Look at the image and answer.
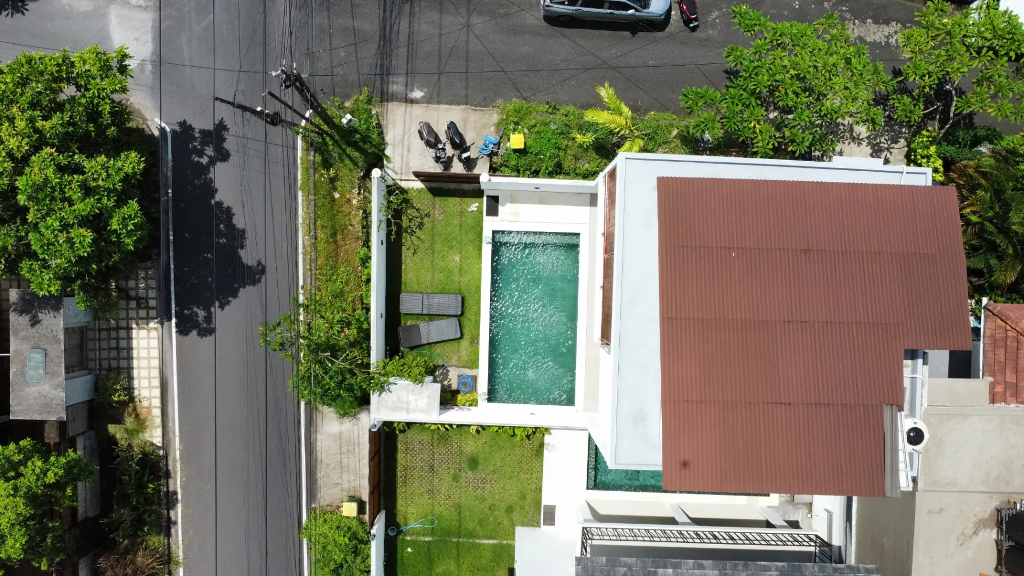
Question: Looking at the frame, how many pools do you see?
2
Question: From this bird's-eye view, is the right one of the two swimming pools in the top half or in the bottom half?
bottom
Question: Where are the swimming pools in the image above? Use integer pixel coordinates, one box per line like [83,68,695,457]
[487,231,580,405]
[587,437,662,491]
